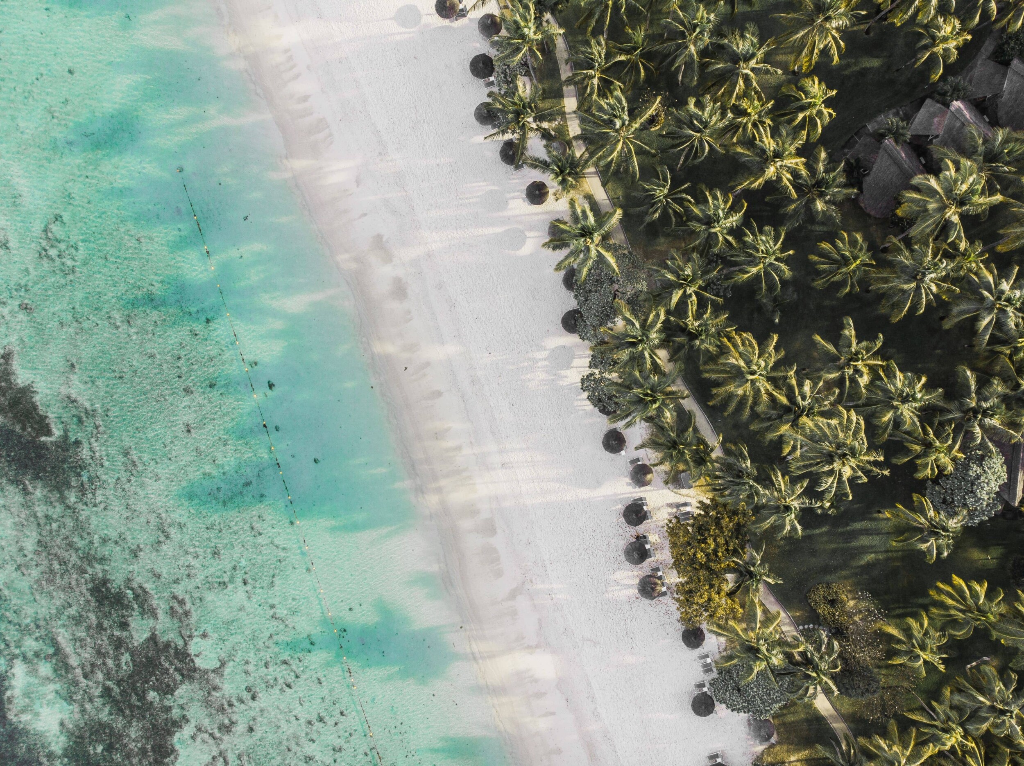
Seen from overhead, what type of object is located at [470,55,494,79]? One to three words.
umbrella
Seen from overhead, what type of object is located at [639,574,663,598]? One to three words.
umbrella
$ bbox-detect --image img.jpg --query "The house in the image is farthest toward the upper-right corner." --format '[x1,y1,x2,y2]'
[961,59,1024,133]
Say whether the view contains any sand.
Yes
